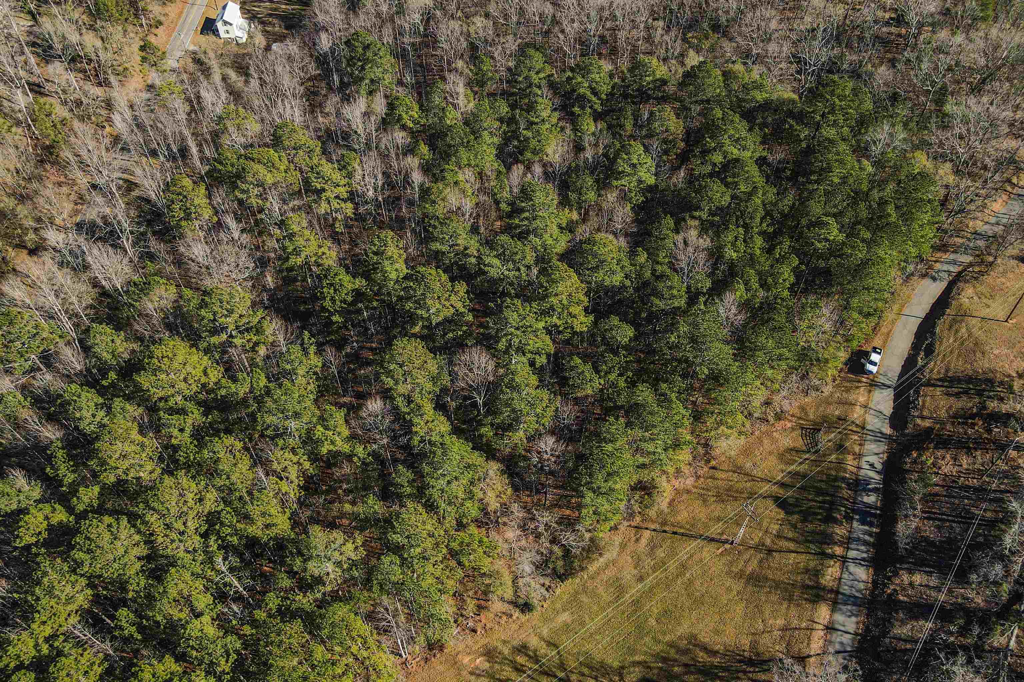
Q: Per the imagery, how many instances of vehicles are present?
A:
1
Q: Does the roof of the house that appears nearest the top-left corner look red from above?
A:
No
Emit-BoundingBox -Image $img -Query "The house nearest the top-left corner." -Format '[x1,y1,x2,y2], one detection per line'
[220,0,257,39]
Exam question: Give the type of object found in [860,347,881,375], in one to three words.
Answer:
truck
